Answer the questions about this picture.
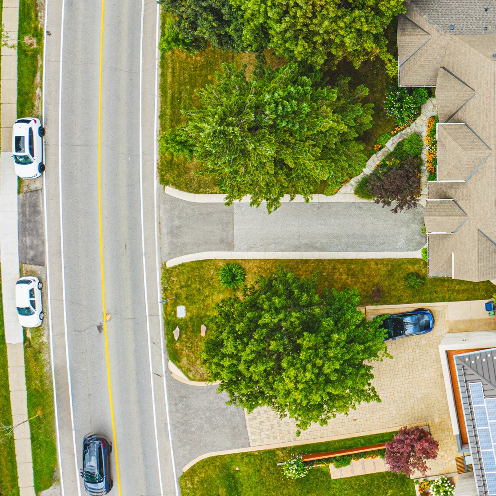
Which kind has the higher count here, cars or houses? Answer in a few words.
cars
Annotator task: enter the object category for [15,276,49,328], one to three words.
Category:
car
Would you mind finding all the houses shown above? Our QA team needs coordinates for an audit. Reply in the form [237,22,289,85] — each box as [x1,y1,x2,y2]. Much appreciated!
[438,330,496,496]
[397,0,496,282]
